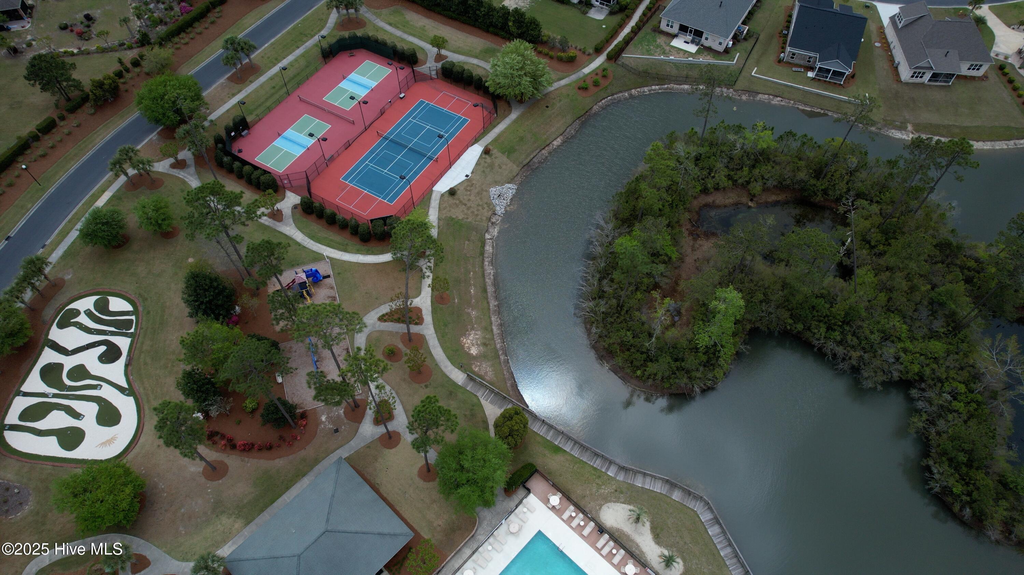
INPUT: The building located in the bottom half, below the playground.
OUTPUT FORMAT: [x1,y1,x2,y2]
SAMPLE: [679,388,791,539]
[227,456,415,575]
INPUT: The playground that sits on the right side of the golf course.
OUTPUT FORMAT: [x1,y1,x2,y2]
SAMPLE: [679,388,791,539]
[274,267,330,299]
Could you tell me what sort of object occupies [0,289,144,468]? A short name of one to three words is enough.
golf course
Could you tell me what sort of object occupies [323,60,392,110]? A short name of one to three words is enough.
sports court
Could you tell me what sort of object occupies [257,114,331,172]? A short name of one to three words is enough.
sports court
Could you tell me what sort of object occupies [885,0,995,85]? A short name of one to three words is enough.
house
